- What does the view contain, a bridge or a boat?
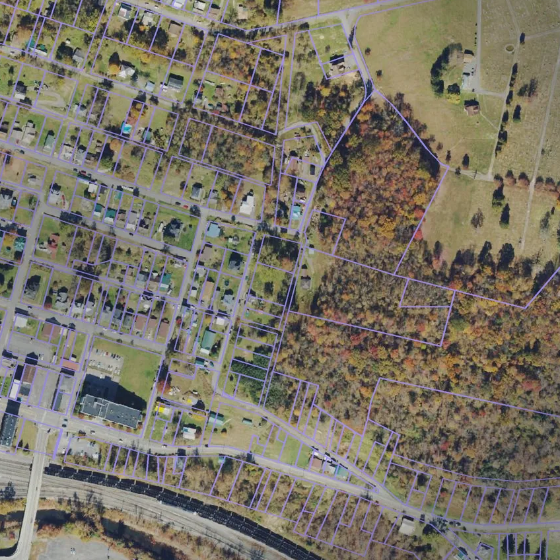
bridge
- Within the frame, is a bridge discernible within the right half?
No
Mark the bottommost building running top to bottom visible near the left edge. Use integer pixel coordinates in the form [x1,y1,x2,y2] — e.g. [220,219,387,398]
[0,410,20,448]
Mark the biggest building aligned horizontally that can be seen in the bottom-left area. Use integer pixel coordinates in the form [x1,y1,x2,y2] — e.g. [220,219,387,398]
[80,396,144,428]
